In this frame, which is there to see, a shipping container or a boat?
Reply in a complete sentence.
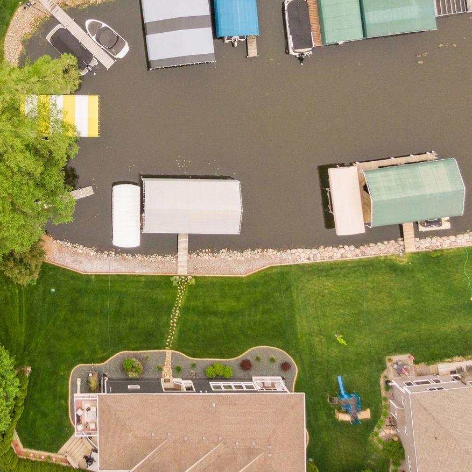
The one in the frame is a boat.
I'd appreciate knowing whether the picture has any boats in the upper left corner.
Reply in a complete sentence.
Yes, a boat can be seen in the upper left corner.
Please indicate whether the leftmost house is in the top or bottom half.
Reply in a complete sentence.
The leftmost house sits in the bottom half of the picture.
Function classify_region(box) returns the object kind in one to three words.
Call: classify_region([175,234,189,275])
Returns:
pier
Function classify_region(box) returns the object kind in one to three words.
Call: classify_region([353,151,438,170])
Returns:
pier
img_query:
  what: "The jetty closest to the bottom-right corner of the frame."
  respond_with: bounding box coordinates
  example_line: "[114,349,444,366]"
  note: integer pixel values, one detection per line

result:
[401,221,416,254]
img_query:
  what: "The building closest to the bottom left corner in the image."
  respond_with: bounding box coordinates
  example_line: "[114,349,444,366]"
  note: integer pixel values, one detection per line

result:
[57,364,307,472]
